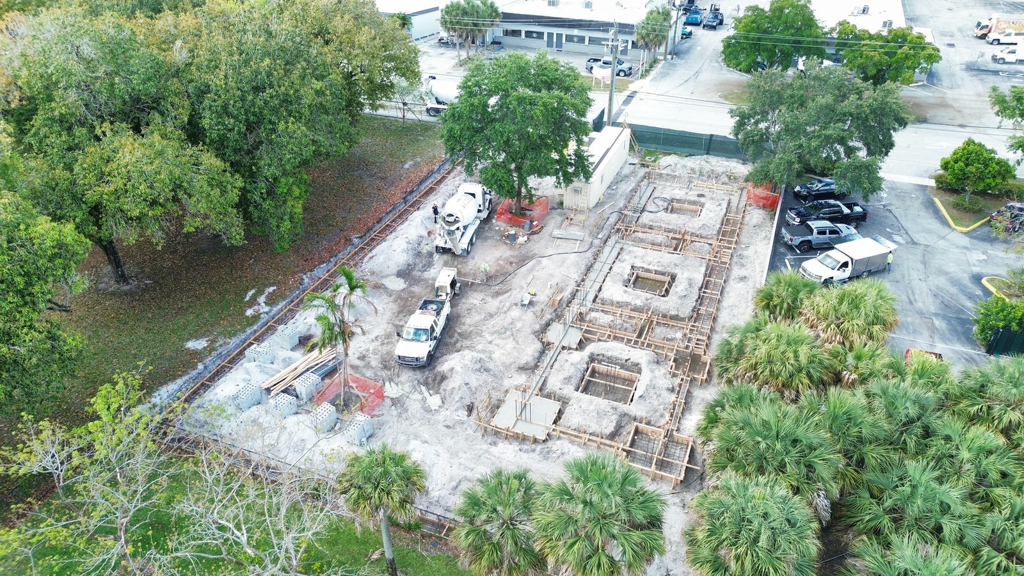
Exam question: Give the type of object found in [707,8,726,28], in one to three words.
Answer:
vehicle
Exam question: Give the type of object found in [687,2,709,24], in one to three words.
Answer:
truck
